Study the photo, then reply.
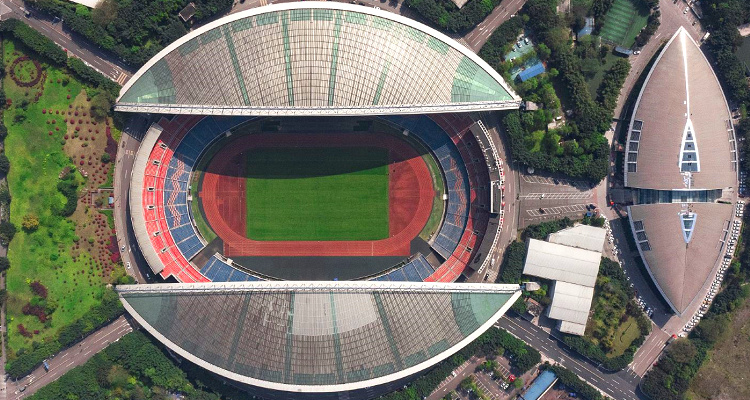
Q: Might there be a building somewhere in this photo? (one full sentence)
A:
Yes, a building can be made out from above.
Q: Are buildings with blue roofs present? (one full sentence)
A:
Yes, there's a building with a blue roof down there.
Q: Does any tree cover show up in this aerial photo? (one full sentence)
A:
Yes, tree cover can be seen from above here.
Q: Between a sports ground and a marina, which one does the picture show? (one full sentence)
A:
It's a sports ground.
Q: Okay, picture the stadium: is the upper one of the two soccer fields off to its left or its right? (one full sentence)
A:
In the image, the upper one of the two soccer fields sits on the right side of the stadium.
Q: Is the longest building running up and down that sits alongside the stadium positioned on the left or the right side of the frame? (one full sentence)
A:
The longest building running up and down that sits alongside the stadium is on the right side of the image.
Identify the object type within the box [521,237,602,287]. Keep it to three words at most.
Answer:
shed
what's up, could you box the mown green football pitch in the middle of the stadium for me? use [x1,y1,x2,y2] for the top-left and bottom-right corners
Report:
[247,148,388,241]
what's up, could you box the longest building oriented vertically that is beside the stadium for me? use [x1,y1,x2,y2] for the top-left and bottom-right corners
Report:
[609,27,740,316]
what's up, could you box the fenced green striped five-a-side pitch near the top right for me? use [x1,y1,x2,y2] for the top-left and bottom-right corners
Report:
[601,0,653,49]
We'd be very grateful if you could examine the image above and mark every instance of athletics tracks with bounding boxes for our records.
[199,132,436,257]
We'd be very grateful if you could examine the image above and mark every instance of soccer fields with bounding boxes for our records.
[247,148,388,241]
[601,0,653,49]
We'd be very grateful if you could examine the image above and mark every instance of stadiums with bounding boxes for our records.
[104,1,540,392]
